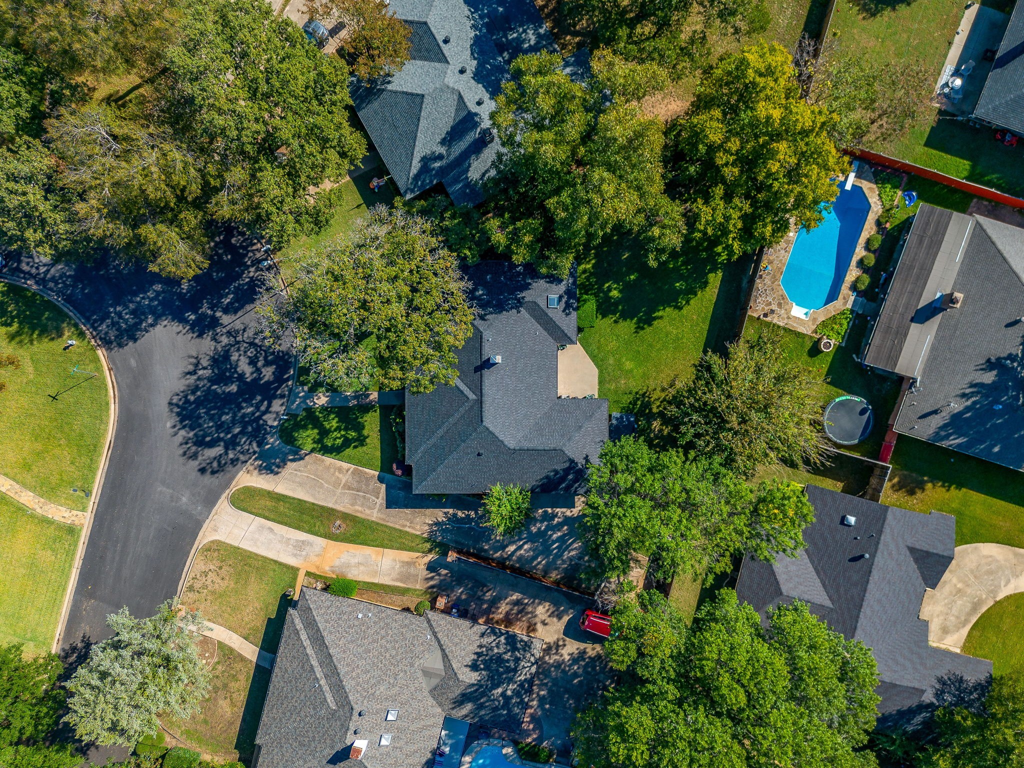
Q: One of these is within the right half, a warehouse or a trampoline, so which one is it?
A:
trampoline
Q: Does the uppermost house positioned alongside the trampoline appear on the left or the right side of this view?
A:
right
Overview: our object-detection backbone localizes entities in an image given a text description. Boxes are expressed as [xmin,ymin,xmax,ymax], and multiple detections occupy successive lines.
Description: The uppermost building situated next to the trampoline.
[890,217,1024,474]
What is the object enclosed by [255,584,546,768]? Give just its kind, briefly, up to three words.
house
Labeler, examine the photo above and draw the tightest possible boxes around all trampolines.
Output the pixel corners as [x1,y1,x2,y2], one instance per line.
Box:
[822,395,876,446]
